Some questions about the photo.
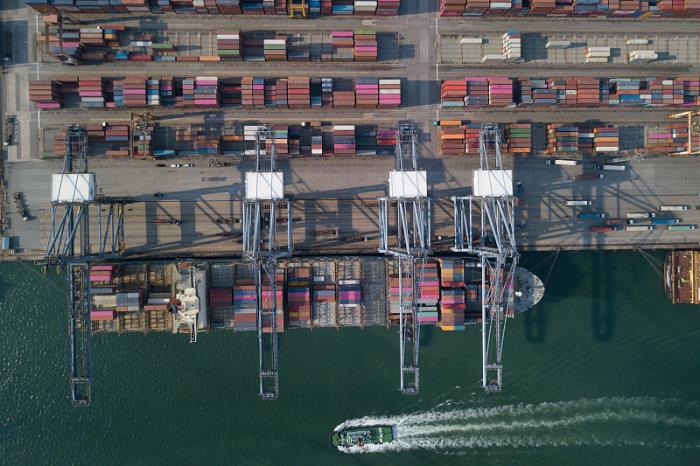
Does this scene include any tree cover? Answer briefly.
No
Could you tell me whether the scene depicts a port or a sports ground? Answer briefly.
port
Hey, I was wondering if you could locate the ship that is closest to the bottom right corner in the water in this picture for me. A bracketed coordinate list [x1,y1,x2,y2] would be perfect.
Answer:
[658,252,700,303]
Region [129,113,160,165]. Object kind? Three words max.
crane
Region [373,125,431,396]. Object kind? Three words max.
container crane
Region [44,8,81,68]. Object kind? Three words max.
crane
